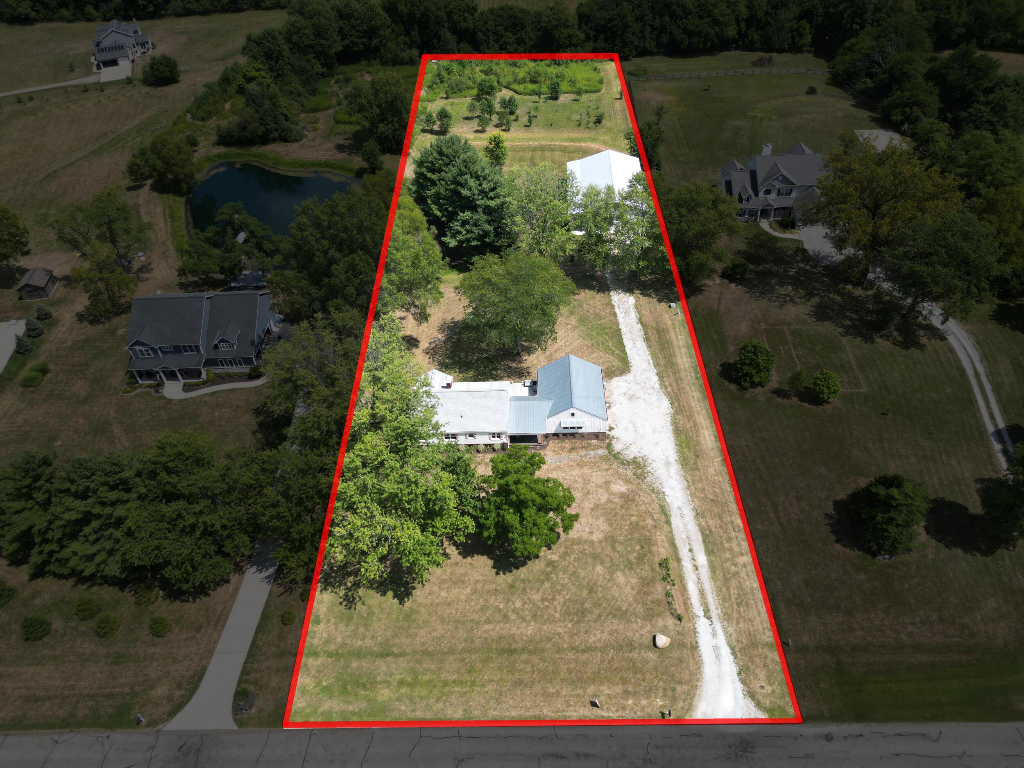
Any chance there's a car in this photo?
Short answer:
No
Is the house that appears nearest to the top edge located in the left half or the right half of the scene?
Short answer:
left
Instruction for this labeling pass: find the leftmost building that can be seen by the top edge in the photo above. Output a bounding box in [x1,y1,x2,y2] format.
[86,9,158,71]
